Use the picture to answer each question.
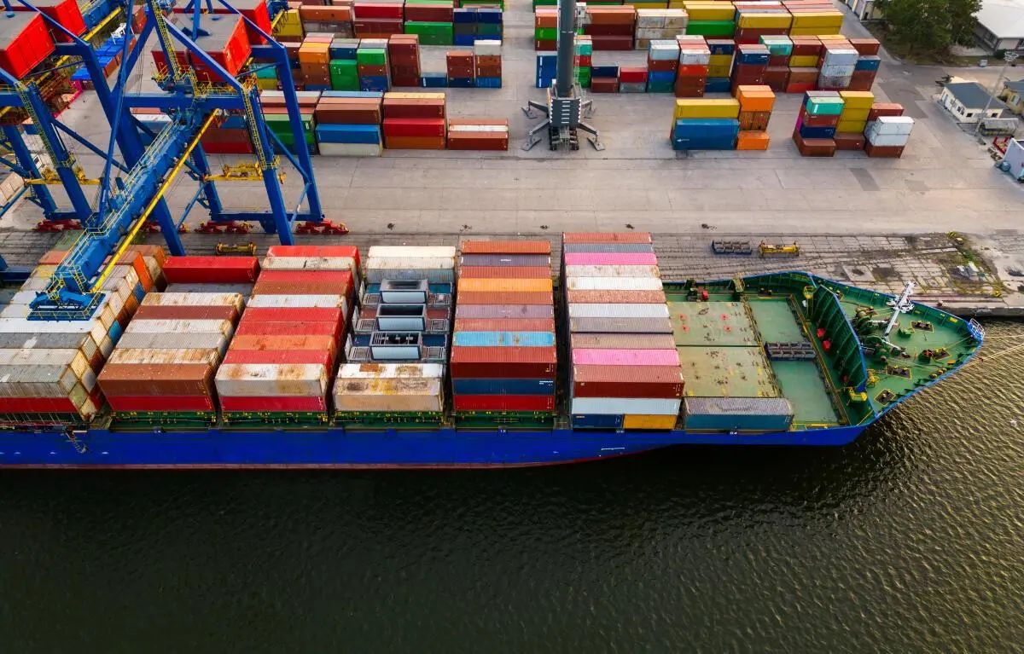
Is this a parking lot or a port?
port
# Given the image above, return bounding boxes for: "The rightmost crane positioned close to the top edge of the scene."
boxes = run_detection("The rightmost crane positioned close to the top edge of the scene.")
[521,0,605,149]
